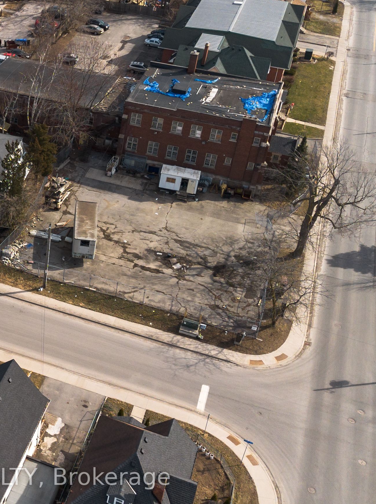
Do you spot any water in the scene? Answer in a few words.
No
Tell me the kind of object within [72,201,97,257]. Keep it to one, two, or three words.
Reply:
trailer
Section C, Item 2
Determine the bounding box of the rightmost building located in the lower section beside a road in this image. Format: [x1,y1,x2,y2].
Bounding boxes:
[66,414,201,504]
